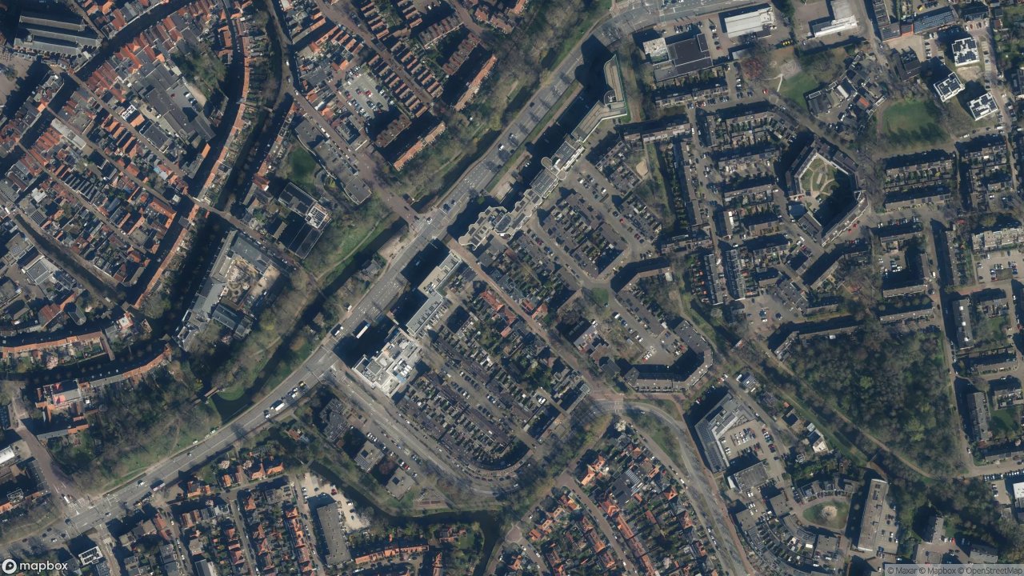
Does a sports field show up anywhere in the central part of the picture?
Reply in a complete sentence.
No, I can find no sports field in the central part of the picture.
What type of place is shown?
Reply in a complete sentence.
The picture captures a residential area.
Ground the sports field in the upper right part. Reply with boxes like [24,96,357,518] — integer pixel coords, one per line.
[879,95,937,139]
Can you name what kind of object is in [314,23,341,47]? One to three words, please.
house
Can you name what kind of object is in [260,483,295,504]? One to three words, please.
house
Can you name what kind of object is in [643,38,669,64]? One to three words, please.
building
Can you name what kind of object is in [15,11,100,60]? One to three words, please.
building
